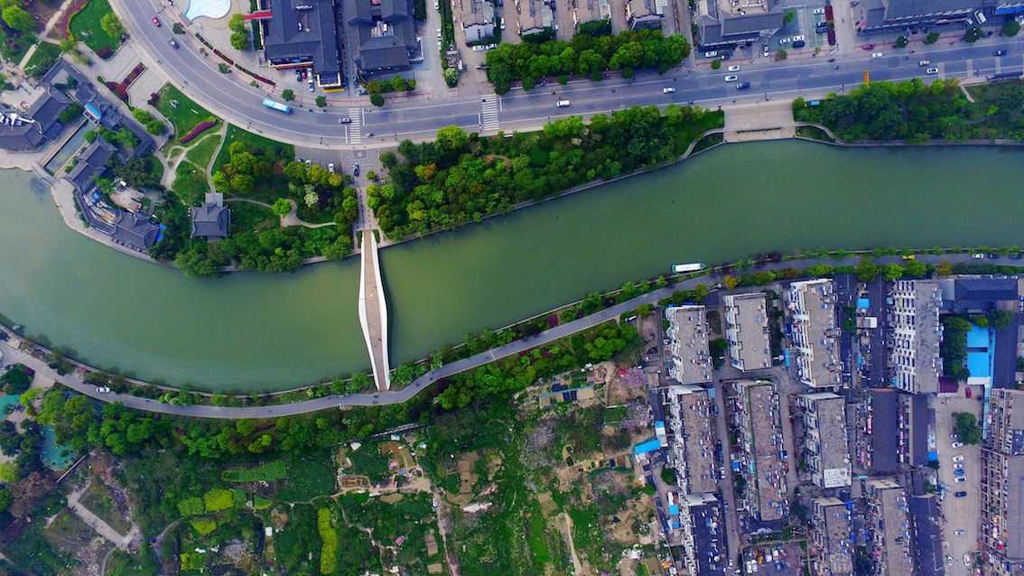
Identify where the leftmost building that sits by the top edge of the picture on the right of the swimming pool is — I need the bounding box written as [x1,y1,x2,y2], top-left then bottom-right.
[260,0,344,94]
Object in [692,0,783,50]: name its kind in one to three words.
house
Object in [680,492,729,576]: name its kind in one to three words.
building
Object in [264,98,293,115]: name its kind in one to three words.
vehicle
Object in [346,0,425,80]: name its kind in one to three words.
building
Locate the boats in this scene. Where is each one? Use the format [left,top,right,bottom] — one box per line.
[670,262,704,274]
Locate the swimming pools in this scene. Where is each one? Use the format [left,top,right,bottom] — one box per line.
[183,0,232,22]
